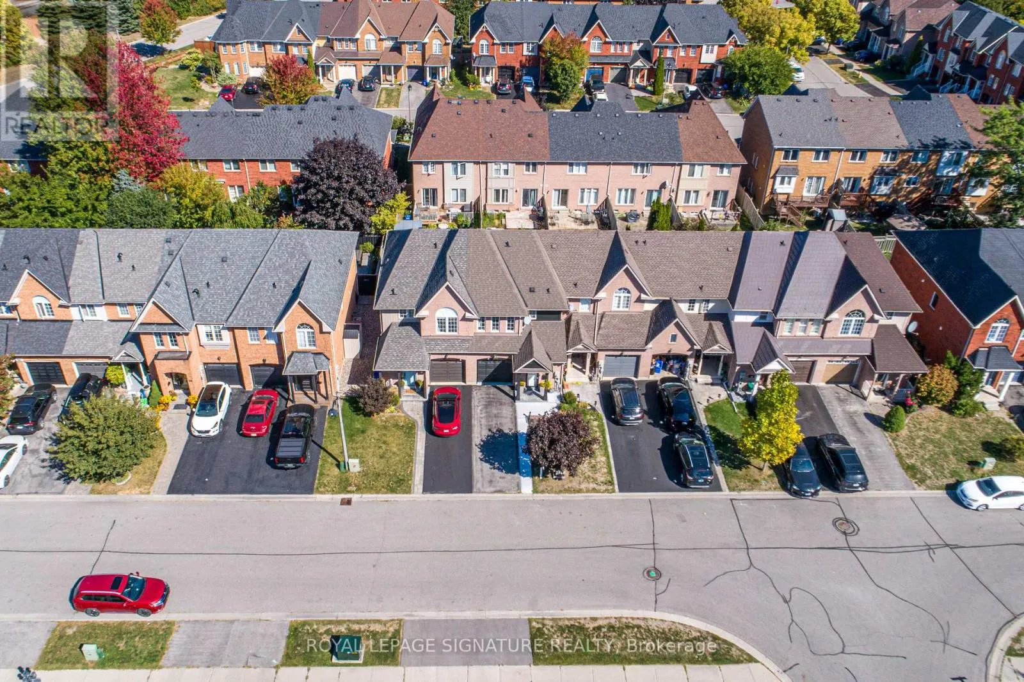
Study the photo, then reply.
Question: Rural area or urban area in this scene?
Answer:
urban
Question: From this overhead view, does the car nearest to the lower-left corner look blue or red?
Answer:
red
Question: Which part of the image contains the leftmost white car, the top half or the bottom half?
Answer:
bottom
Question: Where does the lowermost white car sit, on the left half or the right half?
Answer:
right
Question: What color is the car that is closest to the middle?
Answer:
red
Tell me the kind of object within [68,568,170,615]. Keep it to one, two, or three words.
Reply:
car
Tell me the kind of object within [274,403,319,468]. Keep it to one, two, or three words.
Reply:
truck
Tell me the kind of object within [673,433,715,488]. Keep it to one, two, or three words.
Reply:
car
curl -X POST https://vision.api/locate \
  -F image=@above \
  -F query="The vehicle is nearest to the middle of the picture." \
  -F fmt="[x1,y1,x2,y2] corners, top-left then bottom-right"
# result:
[431,388,465,437]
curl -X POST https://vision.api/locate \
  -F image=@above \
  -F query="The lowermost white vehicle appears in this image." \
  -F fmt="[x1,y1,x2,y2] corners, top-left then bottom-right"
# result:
[959,473,1024,509]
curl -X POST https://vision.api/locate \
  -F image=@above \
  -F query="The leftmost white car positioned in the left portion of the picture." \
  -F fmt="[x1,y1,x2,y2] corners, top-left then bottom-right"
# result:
[0,432,33,488]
